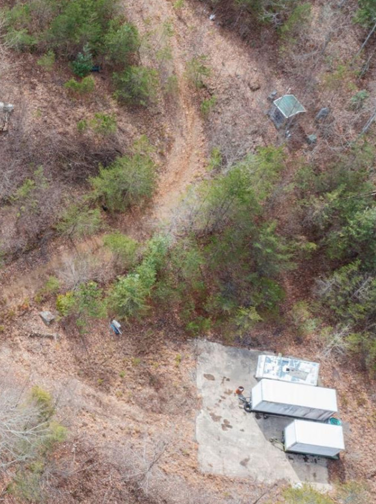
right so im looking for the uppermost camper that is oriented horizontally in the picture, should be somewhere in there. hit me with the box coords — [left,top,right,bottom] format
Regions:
[238,354,319,387]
